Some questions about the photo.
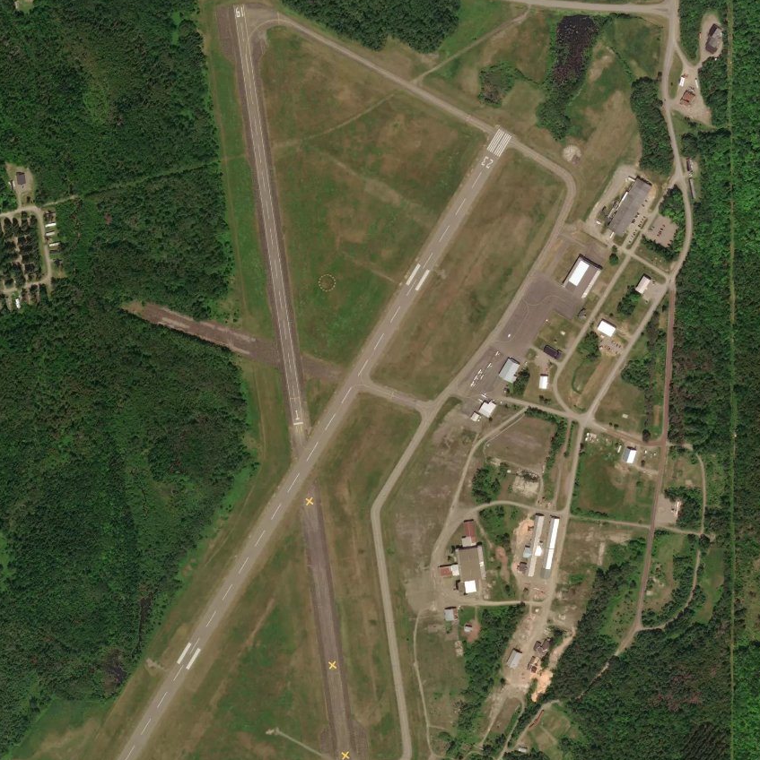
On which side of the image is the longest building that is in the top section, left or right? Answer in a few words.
right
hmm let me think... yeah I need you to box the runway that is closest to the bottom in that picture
[303,478,368,760]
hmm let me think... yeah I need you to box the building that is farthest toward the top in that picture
[704,27,723,56]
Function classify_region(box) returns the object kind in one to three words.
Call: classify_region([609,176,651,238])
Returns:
building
